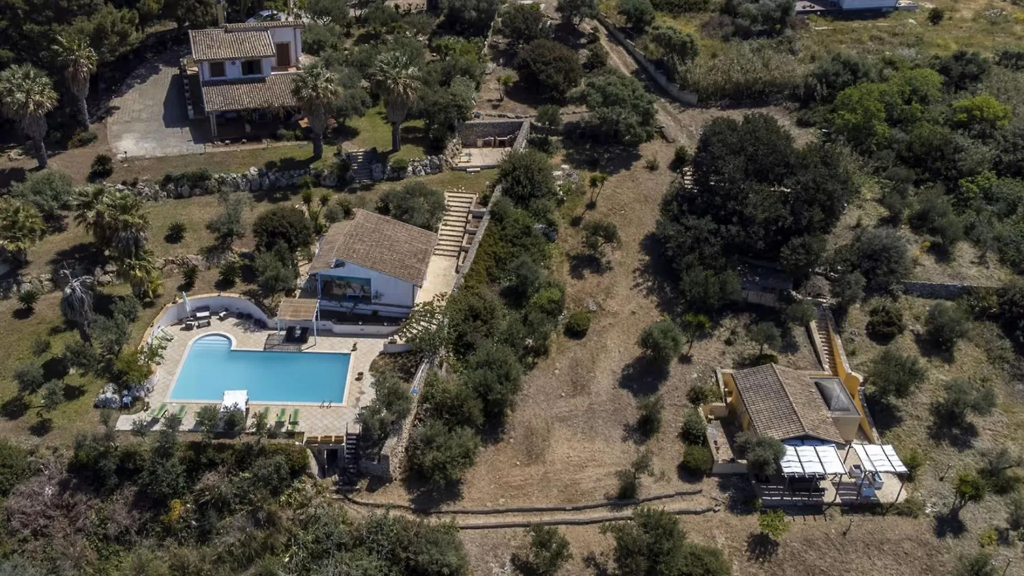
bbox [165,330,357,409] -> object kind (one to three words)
swimming pool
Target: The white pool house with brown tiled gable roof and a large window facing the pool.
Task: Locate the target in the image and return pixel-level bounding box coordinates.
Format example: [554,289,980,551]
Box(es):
[304,209,435,322]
